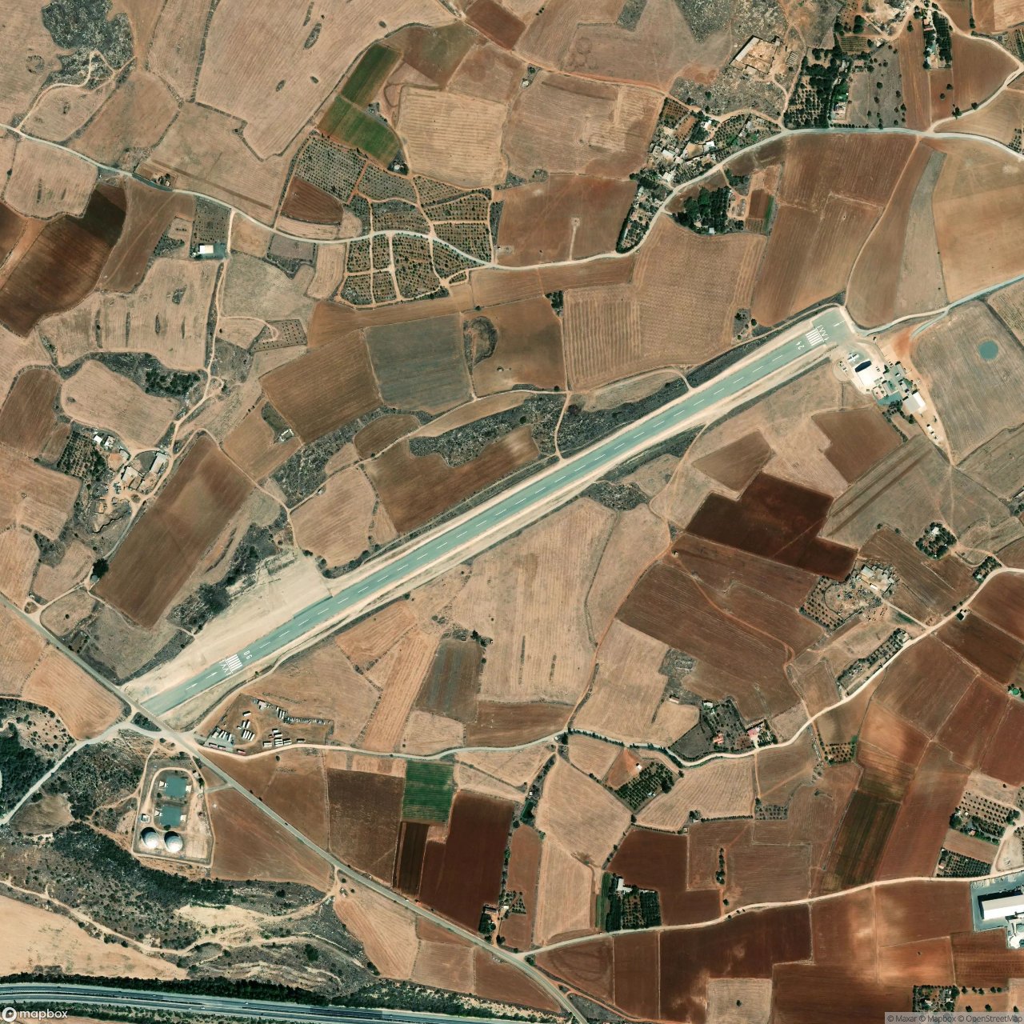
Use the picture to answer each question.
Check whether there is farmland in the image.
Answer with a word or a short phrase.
Yes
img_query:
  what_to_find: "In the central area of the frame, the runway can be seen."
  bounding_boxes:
[145,326,823,717]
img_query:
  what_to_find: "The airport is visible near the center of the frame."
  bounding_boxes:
[139,310,889,720]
